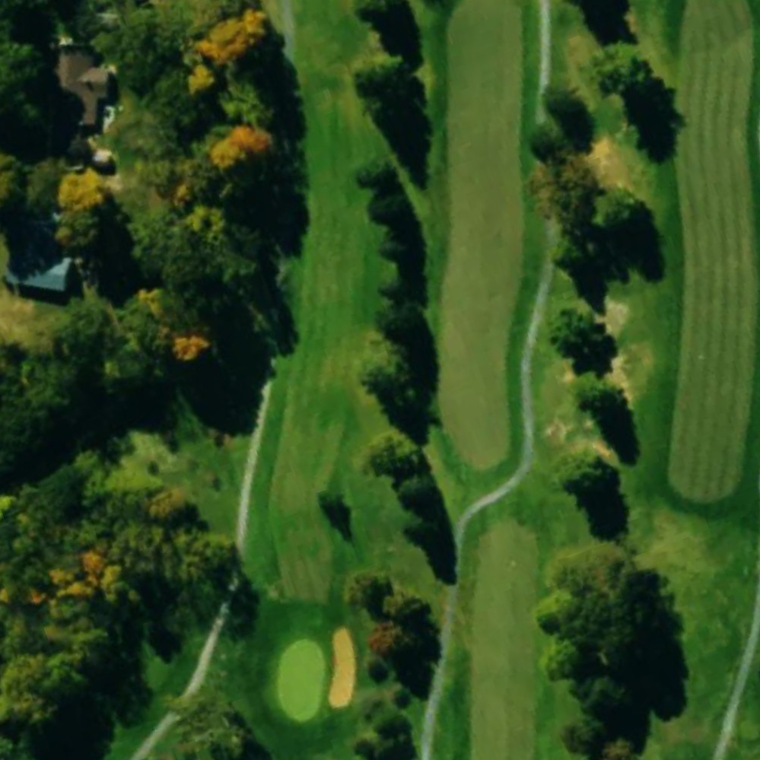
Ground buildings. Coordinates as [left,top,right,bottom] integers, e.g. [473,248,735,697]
[95,147,112,164]
[58,49,113,126]
[6,218,75,295]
